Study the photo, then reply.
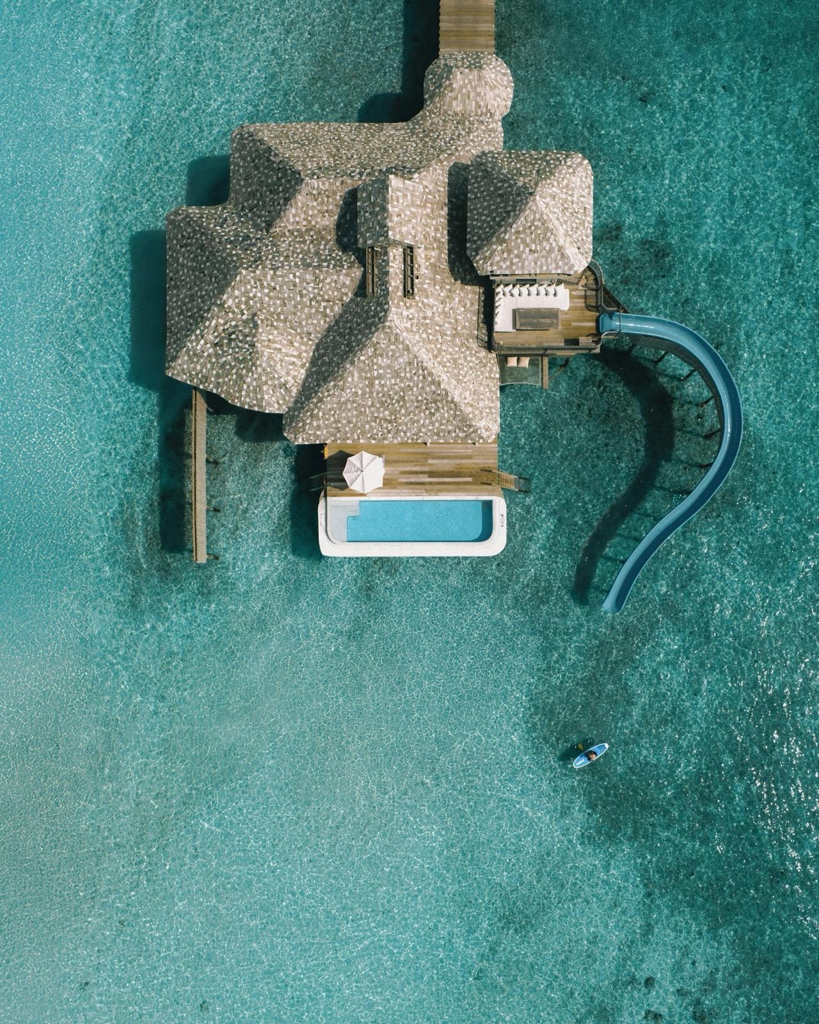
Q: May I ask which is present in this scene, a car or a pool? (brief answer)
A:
pool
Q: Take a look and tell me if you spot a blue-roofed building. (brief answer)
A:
No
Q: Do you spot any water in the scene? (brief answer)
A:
Yes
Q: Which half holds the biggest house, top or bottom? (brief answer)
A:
top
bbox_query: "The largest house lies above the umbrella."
[166,107,505,451]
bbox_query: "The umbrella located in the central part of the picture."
[343,451,385,494]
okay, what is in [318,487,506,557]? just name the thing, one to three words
swimming pool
